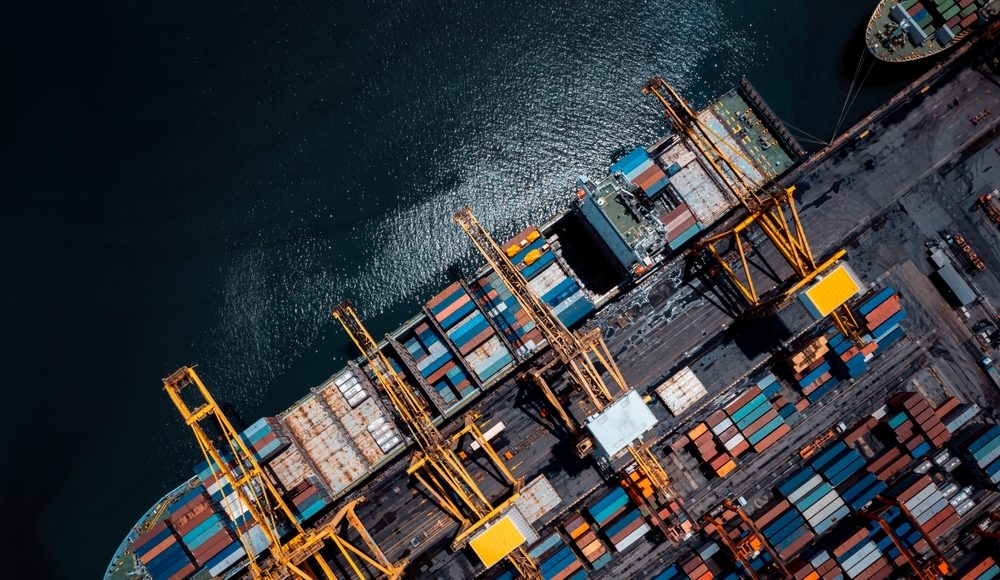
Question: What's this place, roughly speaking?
port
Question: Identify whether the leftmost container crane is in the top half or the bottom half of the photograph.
bottom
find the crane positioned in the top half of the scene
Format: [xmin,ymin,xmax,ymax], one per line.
[645,72,873,348]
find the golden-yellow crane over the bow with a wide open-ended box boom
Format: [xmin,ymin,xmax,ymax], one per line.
[160,361,407,580]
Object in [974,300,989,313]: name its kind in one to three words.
vehicle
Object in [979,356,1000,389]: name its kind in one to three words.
truck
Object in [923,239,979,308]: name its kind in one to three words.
shed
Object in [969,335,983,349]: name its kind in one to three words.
vehicle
